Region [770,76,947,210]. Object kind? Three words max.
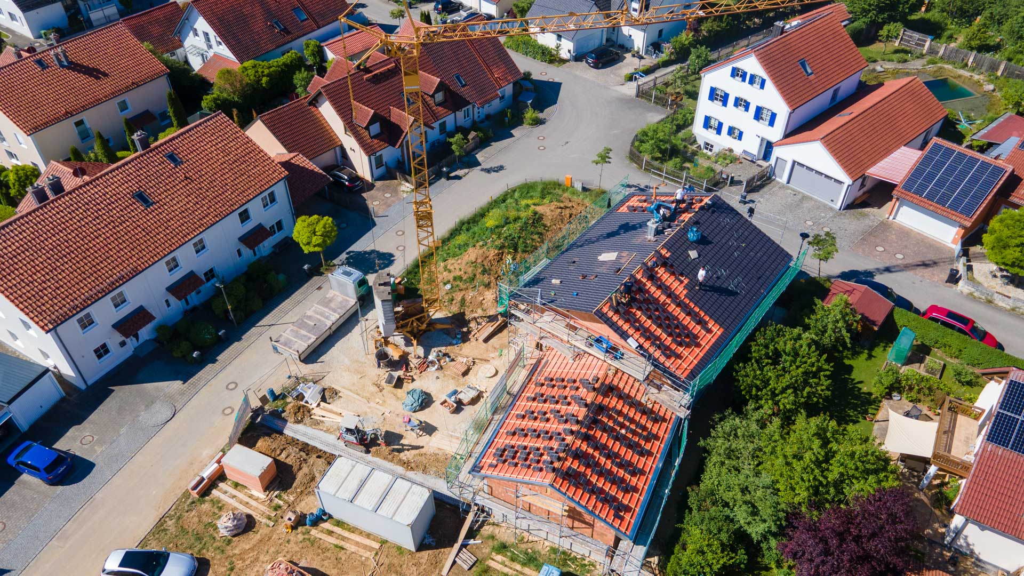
building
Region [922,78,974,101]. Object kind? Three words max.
swimming pool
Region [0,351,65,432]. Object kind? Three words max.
building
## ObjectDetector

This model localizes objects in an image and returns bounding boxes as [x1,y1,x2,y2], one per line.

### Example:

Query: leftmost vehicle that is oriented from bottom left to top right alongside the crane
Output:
[266,270,365,371]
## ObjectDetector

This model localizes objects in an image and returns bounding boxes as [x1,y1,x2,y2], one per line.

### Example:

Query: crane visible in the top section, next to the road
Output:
[338,0,834,358]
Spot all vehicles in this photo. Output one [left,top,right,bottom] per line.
[330,167,368,196]
[923,308,994,348]
[266,270,365,371]
[4,445,78,489]
[339,407,396,450]
[585,47,619,68]
[100,547,201,576]
[853,274,917,316]
[464,10,496,19]
[435,0,463,15]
